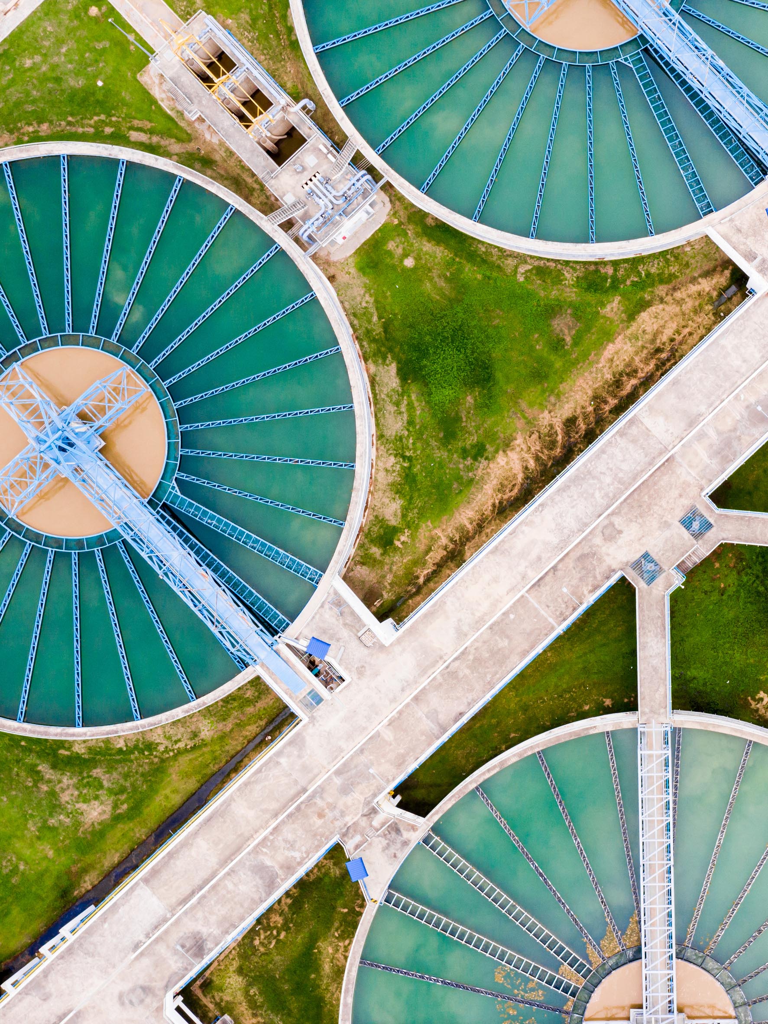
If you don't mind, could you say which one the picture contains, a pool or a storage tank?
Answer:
storage tank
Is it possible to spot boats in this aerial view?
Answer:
No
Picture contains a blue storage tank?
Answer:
Yes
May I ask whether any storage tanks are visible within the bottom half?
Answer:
Yes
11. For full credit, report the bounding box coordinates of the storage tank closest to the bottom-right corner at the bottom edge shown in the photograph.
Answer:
[343,718,768,1024]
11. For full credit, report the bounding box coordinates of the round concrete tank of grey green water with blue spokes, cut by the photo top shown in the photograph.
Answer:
[296,0,768,260]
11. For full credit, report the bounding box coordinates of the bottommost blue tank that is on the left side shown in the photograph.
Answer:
[0,143,364,738]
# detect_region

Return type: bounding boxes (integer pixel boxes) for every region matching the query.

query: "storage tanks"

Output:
[343,718,768,1024]
[0,143,364,738]
[296,0,768,260]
